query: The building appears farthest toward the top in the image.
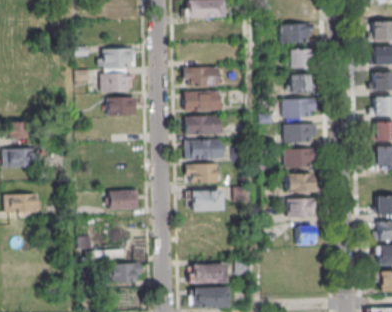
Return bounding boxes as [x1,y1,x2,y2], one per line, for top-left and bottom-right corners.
[184,0,227,19]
